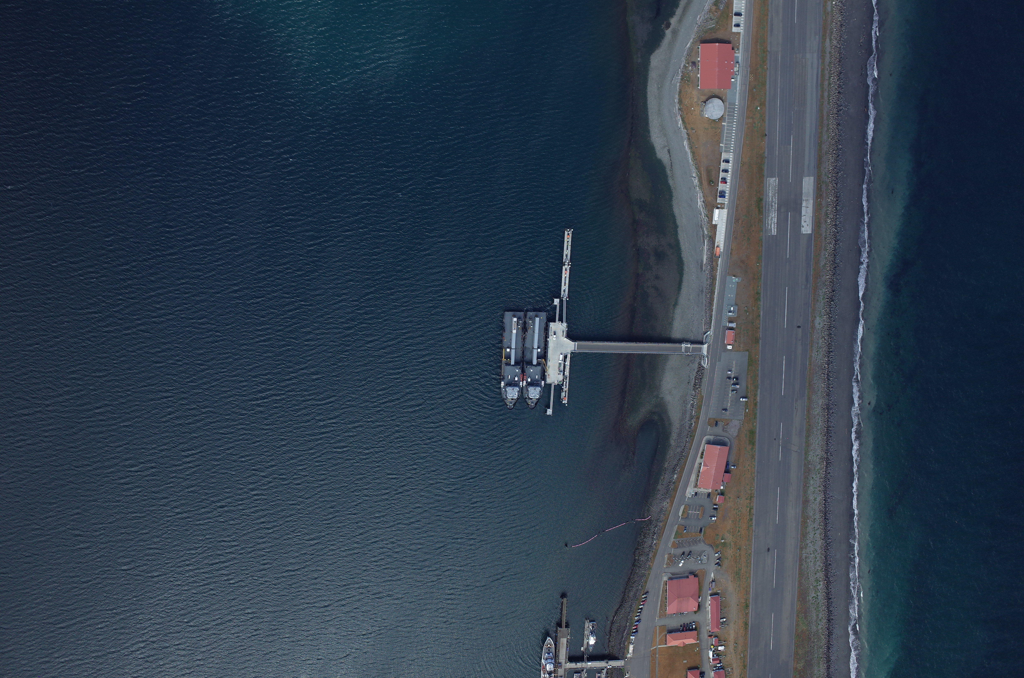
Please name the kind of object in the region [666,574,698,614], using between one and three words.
building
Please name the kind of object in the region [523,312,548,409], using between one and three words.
ship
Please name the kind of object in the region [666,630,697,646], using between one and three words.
building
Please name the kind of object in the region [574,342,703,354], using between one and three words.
bridge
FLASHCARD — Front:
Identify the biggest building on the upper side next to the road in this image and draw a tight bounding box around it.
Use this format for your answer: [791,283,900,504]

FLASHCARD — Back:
[697,43,734,89]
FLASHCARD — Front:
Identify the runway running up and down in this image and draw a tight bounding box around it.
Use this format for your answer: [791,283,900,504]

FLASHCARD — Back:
[745,0,824,678]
